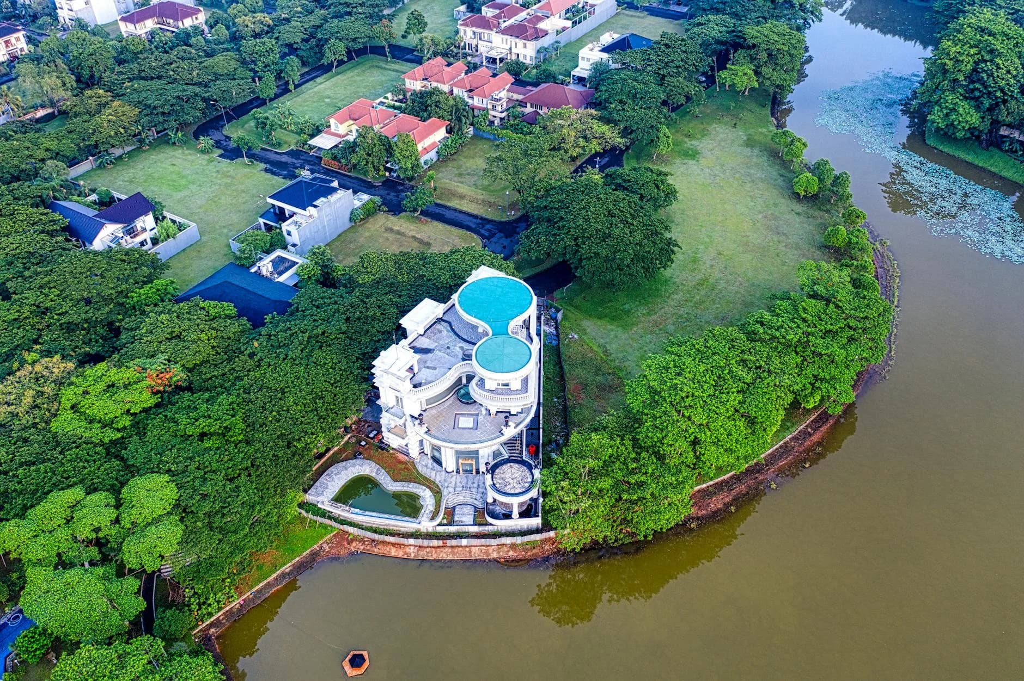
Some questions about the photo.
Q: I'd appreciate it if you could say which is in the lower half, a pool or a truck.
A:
pool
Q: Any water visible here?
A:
Yes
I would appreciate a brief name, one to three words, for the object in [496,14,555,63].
house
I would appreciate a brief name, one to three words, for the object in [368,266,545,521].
house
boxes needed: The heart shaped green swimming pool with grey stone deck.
[308,460,436,535]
